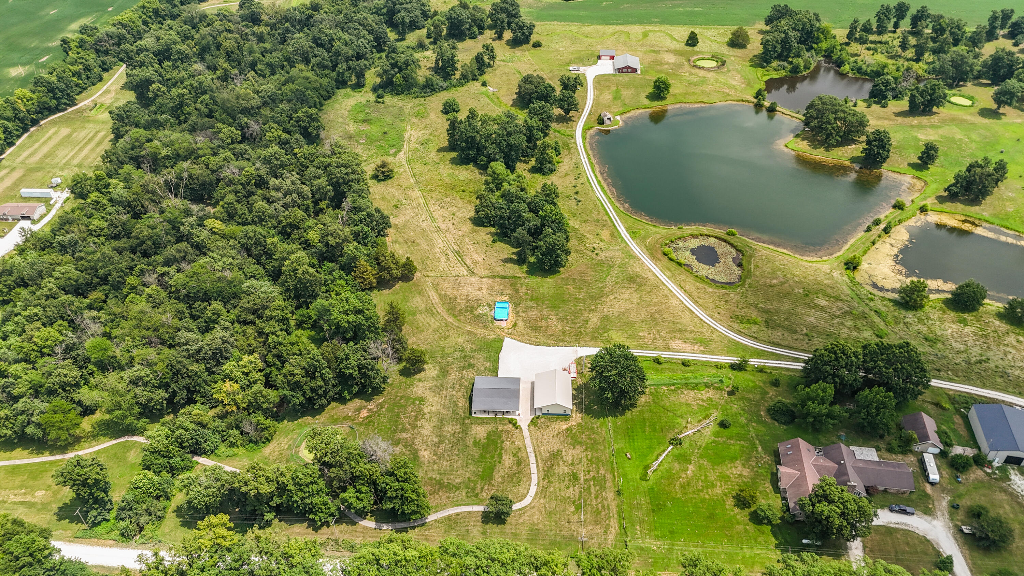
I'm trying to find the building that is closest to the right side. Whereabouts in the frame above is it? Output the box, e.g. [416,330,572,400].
[971,401,1024,465]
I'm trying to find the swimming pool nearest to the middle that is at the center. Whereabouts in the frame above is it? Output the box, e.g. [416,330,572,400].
[494,302,509,321]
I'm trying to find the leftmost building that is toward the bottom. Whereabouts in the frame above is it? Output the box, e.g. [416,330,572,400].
[471,376,520,418]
